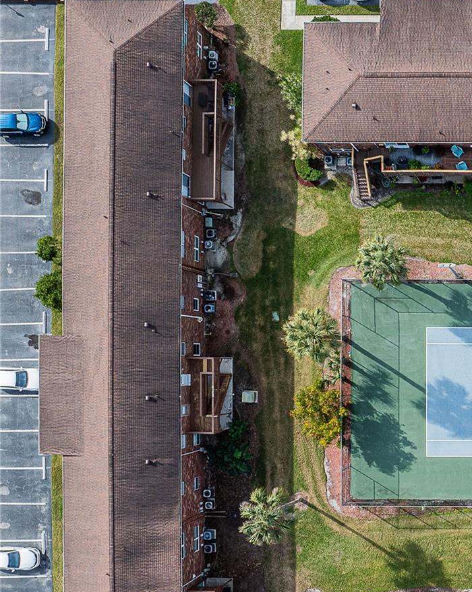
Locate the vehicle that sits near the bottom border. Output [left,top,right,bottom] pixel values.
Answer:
[0,546,43,573]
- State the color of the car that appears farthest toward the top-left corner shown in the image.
blue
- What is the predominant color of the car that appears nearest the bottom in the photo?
white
